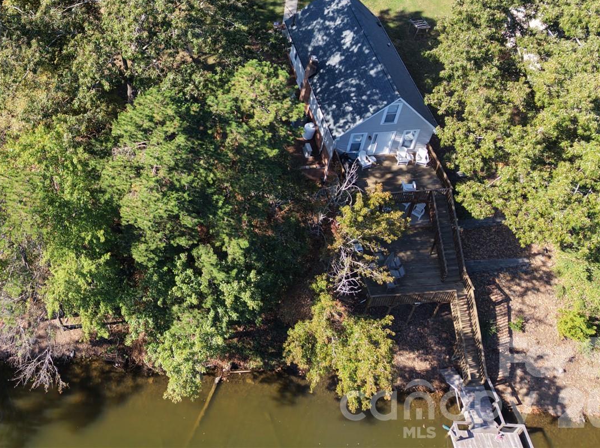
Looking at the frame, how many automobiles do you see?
0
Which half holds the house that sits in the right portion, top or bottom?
top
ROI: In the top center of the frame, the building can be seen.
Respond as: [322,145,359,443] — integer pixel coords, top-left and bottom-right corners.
[280,0,445,179]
